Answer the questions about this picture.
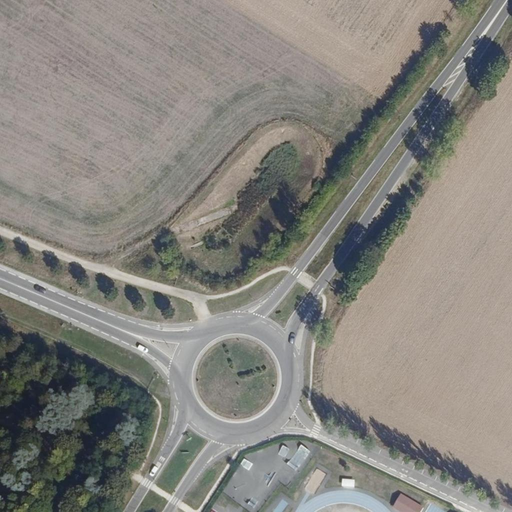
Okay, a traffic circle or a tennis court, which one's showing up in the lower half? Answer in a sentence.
There is a traffic circle in the lower half.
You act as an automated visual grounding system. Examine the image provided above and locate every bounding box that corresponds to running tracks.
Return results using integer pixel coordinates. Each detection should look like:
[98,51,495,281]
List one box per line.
[294,490,392,512]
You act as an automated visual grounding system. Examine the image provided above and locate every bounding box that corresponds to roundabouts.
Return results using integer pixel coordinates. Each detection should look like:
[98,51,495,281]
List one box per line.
[141,270,326,496]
